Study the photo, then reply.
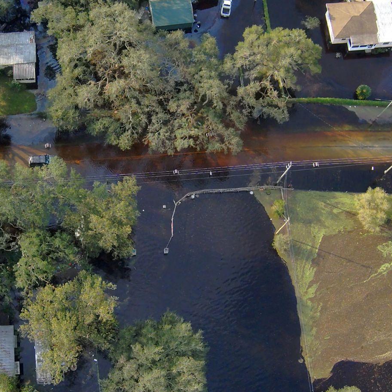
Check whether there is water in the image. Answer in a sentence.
Yes, water can be seen from above here.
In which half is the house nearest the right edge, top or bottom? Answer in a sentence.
It is in the top half that the house nearest the right edge appears.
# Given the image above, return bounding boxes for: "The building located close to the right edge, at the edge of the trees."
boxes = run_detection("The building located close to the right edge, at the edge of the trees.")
[323,0,392,54]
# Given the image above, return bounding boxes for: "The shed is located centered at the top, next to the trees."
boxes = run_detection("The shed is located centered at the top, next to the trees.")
[149,0,194,39]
